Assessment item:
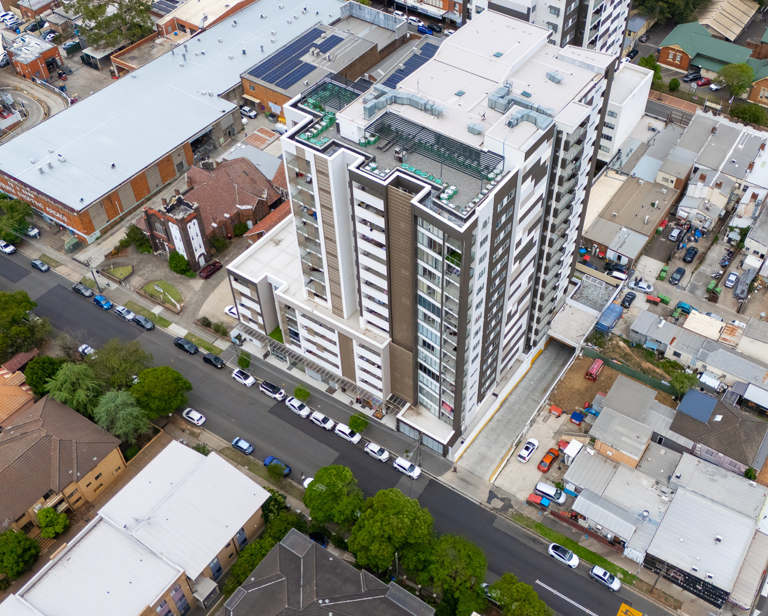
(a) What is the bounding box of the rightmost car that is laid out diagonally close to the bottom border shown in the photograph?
[585,564,623,594]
